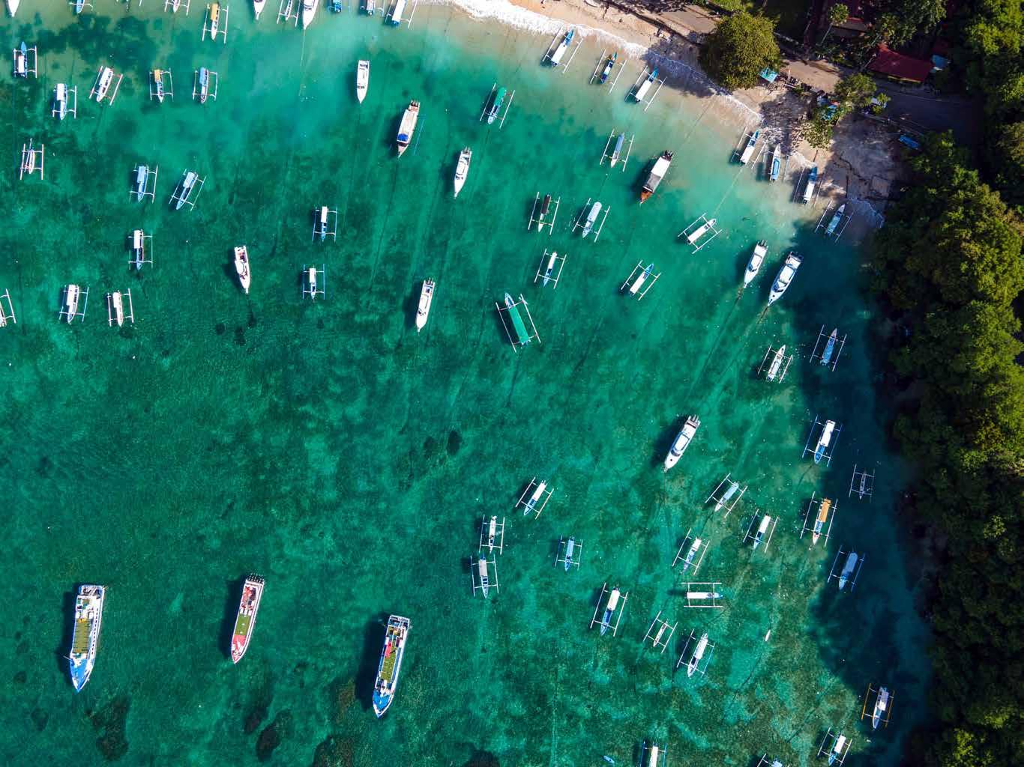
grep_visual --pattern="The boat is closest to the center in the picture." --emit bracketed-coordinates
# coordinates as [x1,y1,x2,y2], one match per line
[497,293,540,352]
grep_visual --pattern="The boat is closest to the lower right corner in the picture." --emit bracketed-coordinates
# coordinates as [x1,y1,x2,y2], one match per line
[862,683,895,730]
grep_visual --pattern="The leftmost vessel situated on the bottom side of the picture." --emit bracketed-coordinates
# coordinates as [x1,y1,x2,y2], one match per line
[67,584,109,691]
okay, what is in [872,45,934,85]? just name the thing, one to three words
house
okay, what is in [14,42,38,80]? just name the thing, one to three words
boat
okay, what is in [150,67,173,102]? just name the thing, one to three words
boat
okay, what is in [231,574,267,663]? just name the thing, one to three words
ship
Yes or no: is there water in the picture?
Yes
